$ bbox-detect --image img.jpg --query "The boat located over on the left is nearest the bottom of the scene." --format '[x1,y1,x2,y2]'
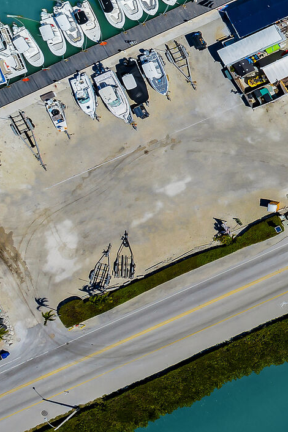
[41,96,64,133]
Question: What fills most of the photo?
paved ground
